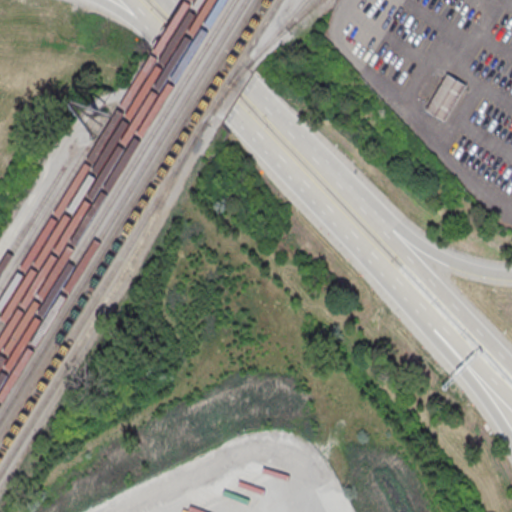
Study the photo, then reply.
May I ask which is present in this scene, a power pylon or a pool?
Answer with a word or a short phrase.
power pylon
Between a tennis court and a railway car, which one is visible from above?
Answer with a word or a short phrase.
railway car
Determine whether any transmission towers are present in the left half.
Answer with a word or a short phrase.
Yes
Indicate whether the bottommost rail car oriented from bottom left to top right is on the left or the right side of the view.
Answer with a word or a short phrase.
left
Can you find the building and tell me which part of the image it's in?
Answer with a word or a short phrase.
top right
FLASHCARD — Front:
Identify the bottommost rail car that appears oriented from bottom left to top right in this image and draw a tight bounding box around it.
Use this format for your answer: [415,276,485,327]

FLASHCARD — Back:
[2,396,40,452]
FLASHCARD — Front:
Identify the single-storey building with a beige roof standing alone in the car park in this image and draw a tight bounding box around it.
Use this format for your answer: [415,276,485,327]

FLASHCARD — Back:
[426,74,470,122]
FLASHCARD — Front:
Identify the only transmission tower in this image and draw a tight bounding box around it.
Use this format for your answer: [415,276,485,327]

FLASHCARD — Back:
[66,100,111,140]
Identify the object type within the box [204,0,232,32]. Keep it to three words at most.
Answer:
rail car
